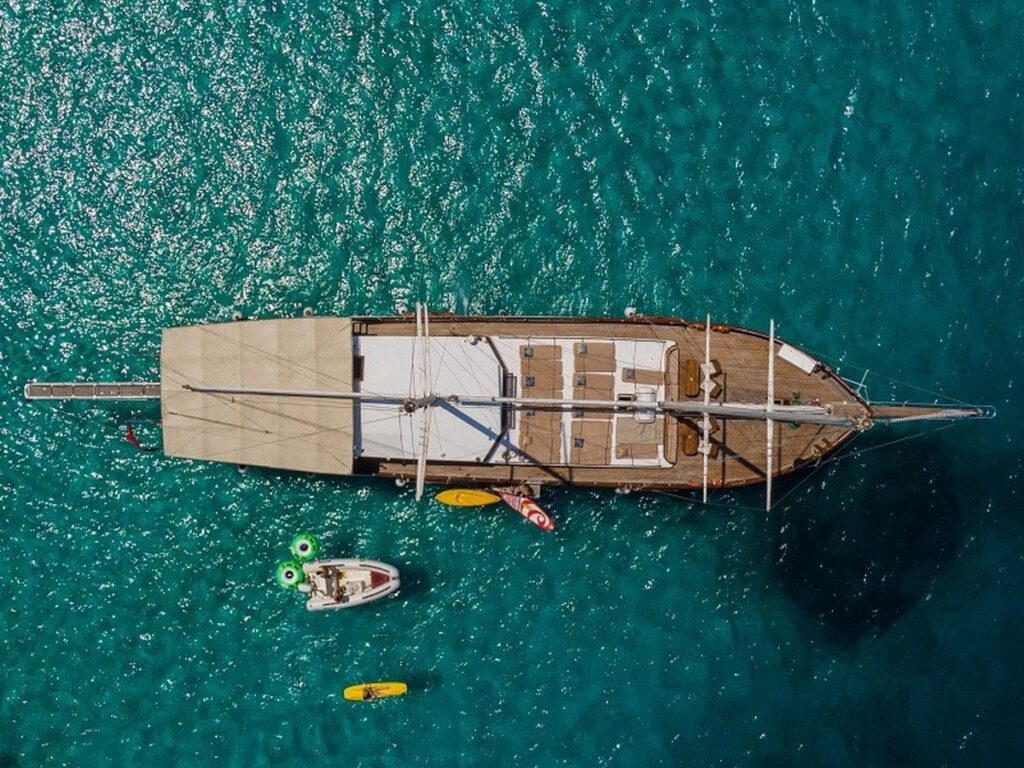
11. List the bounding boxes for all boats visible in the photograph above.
[24,303,997,511]
[298,559,400,611]
[436,488,500,506]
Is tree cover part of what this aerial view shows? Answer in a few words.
No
